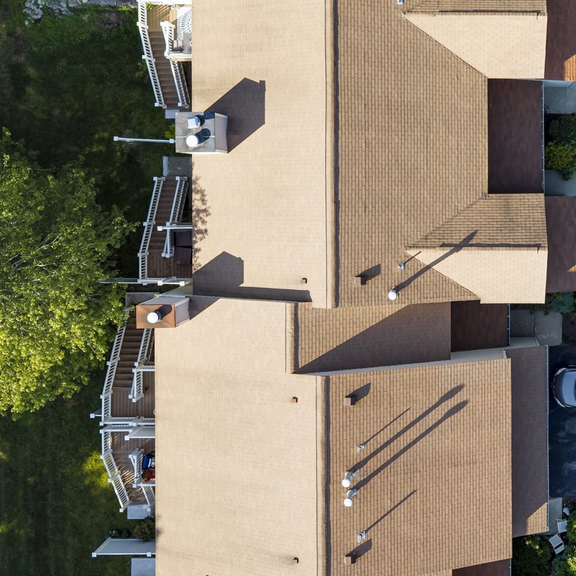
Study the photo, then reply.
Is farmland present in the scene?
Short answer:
No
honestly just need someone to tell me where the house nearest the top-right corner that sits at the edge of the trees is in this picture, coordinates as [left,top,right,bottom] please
[174,0,576,307]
